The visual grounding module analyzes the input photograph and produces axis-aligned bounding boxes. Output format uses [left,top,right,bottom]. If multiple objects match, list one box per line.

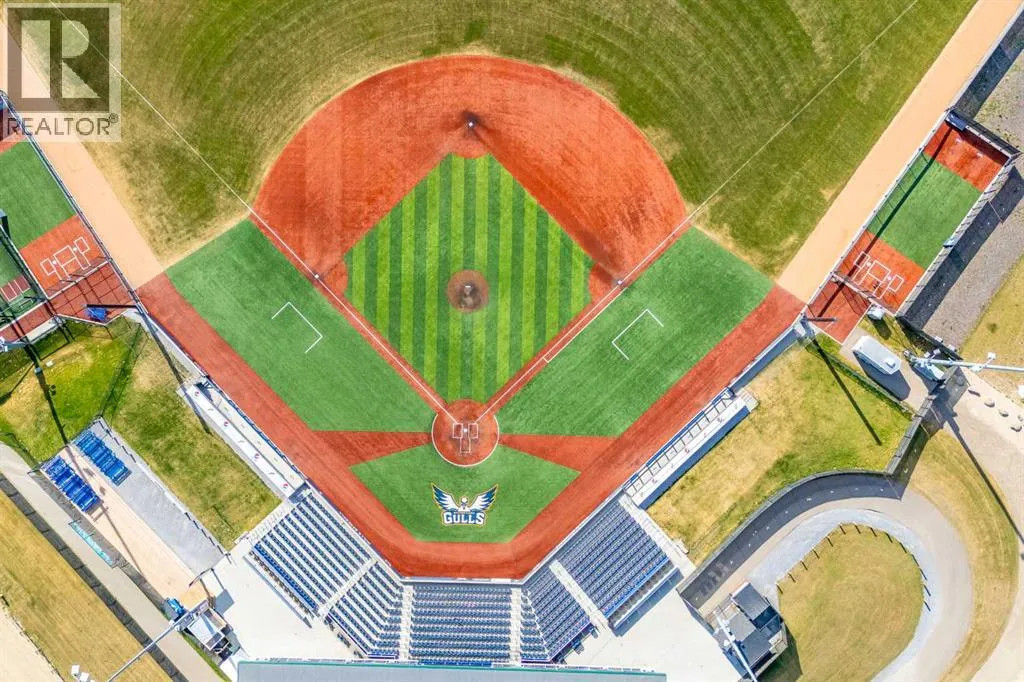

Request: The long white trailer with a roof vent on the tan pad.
[841,330,901,374]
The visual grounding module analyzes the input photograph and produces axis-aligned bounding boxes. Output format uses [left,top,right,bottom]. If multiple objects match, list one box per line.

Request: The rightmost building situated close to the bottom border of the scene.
[725,577,793,682]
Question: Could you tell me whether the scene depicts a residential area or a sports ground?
sports ground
